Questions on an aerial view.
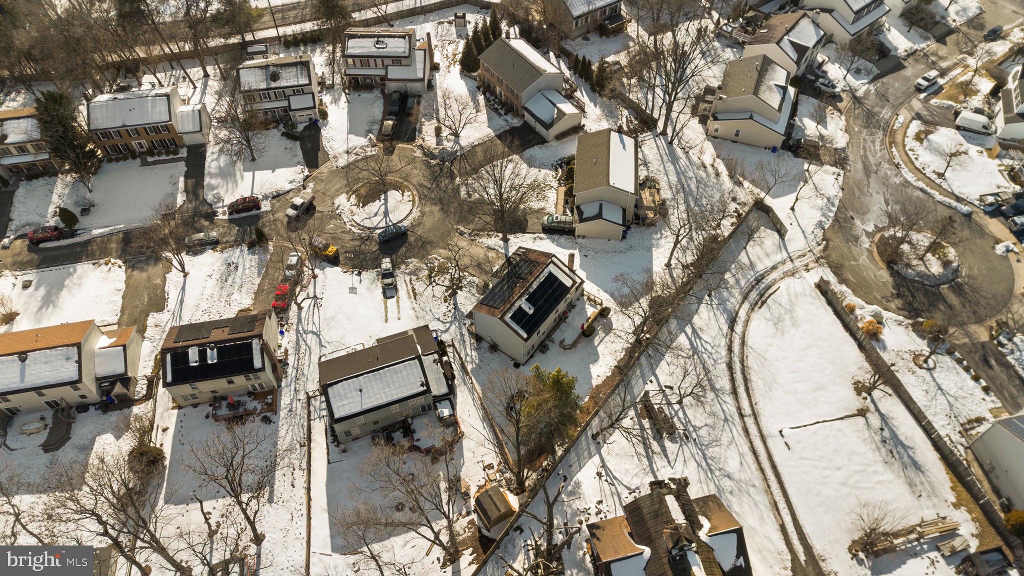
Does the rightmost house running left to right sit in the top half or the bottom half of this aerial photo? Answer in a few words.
top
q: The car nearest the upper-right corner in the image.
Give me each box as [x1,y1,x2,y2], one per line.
[982,26,1004,41]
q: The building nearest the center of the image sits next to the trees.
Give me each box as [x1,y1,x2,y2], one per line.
[469,245,585,362]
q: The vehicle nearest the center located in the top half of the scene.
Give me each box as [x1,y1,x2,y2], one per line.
[541,216,575,234]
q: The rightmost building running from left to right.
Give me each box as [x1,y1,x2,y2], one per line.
[797,0,893,47]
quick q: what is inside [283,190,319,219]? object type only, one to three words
truck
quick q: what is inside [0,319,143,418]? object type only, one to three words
house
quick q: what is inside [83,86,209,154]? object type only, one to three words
house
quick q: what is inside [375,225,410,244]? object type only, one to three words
car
